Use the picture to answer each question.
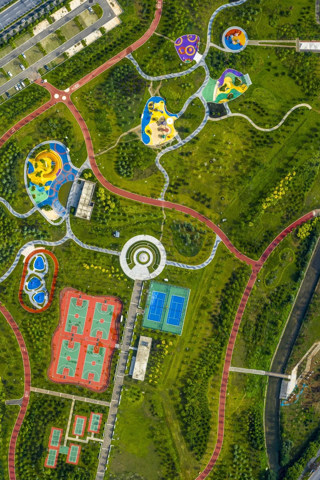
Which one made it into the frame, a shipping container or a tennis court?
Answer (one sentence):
There is a tennis court in the scene.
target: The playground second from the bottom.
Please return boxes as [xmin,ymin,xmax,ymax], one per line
[141,95,178,145]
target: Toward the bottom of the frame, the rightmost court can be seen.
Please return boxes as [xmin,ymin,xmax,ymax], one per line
[163,285,191,335]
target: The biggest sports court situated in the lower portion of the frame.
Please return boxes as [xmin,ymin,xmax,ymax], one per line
[48,287,123,392]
